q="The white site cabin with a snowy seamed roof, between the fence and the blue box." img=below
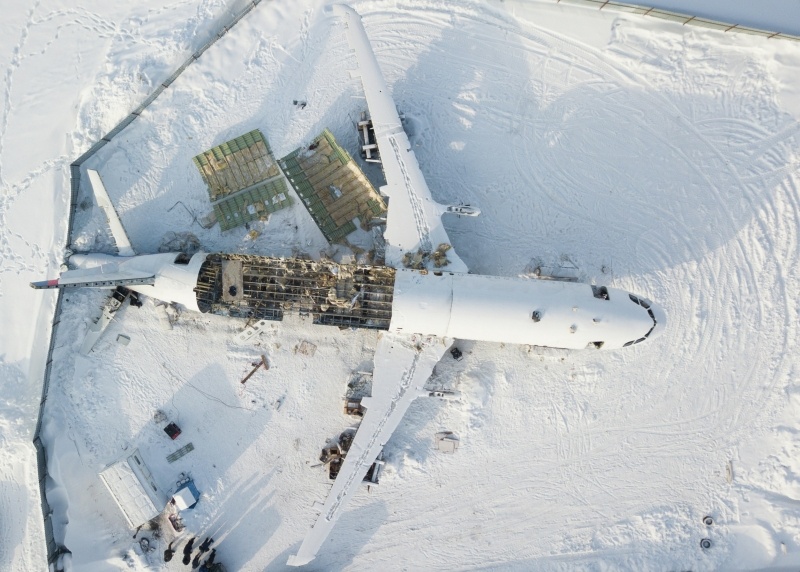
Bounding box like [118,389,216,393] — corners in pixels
[97,450,168,531]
